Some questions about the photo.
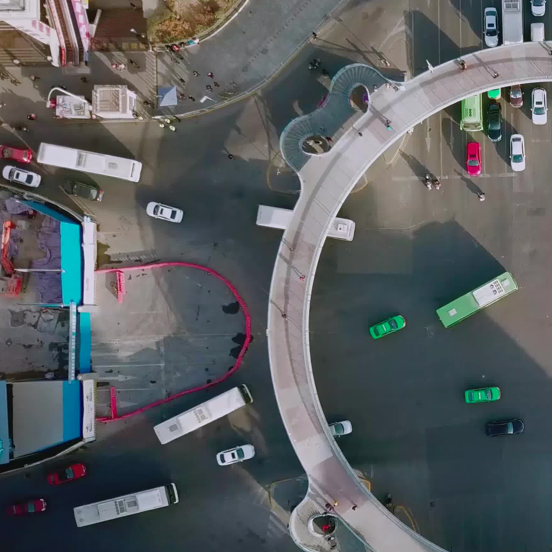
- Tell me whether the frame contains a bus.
Yes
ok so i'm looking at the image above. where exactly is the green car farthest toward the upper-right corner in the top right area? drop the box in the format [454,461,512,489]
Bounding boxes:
[487,87,502,102]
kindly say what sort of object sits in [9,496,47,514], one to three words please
car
